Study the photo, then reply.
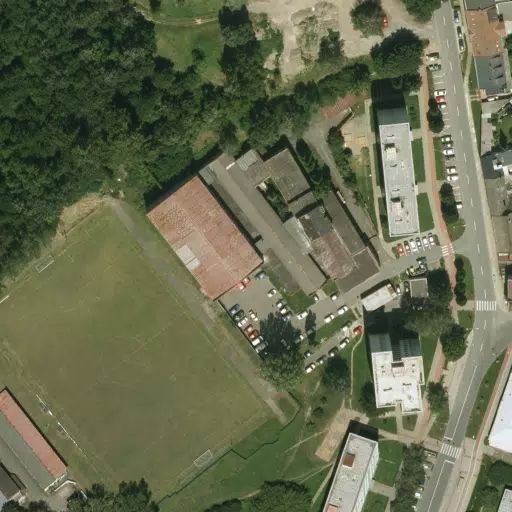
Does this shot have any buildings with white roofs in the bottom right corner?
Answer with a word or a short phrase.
Yes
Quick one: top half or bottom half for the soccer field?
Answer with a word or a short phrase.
bottom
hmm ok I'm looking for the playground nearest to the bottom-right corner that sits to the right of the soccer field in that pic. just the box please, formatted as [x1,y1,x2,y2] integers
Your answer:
[314,406,368,462]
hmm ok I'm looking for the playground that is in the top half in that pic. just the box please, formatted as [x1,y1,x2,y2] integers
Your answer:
[340,100,372,160]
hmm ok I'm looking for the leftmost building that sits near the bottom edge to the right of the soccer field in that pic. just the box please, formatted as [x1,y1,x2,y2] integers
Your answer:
[316,422,380,512]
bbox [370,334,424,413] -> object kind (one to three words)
building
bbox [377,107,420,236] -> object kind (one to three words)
building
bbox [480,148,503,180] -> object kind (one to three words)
house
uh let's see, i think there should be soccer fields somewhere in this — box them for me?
[0,210,270,512]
